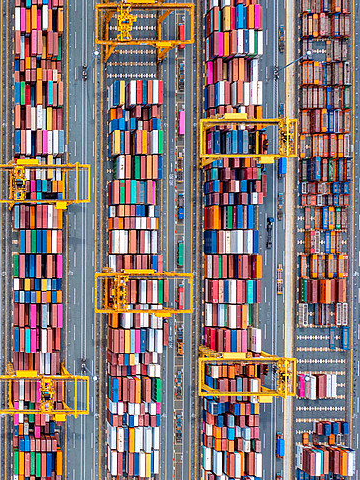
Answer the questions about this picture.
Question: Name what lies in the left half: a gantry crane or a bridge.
gantry crane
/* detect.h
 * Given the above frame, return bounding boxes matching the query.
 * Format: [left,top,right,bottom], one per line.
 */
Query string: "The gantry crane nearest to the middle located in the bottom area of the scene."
[95,263,194,321]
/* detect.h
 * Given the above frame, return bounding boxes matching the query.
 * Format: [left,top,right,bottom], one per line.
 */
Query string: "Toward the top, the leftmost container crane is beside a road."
[0,158,90,210]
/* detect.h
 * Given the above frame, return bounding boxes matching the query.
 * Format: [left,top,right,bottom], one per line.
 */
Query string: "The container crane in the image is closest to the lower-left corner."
[0,360,89,422]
